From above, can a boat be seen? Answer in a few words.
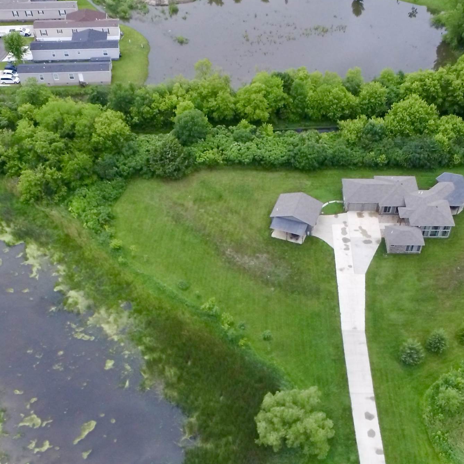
No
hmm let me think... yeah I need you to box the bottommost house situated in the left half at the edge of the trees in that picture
[18,57,111,84]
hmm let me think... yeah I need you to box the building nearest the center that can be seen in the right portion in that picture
[269,192,324,244]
